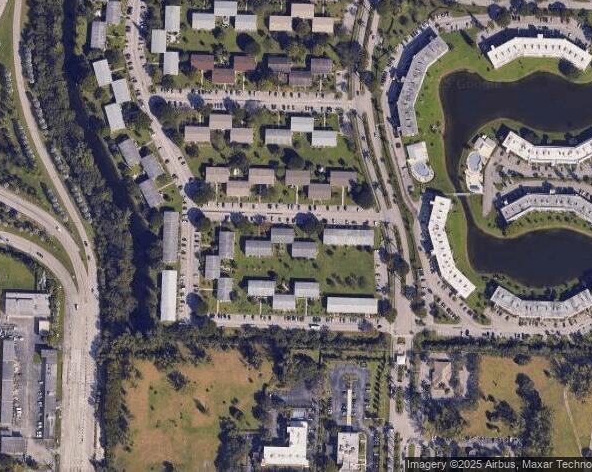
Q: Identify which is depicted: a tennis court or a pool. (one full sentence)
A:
It is a pool that can be seen here.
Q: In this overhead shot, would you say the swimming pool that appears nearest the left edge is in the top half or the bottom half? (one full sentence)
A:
The swimming pool that appears nearest the left edge is in the top half of the image.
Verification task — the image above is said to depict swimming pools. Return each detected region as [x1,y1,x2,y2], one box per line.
[465,150,487,200]
[407,143,435,182]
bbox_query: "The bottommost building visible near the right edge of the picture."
[490,286,592,320]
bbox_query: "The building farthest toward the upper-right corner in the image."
[487,34,592,71]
